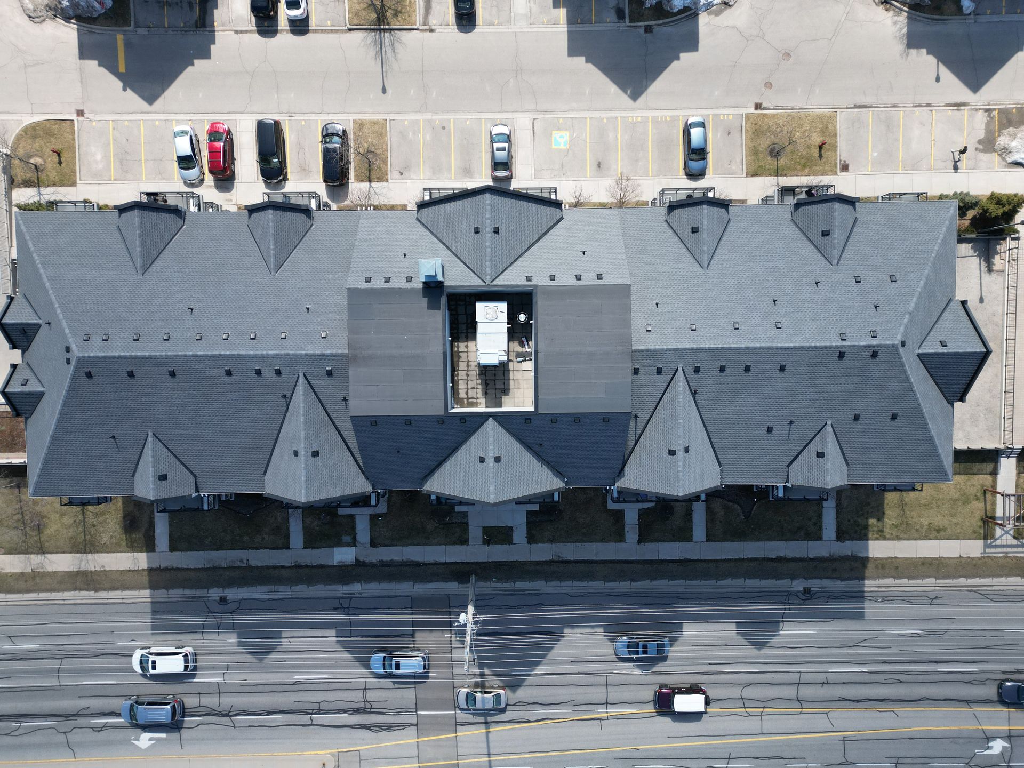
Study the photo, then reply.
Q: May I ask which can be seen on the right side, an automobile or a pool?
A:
automobile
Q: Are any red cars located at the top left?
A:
Yes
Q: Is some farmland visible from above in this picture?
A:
No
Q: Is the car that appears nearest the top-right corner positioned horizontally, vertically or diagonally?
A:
vertically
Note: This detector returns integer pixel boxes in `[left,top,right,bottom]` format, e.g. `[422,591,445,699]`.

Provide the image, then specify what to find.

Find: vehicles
[454,0,477,20]
[251,0,280,23]
[682,117,710,177]
[318,123,349,187]
[456,684,508,712]
[653,684,707,714]
[285,0,311,23]
[202,121,236,180]
[994,678,1024,706]
[172,124,206,186]
[255,118,287,184]
[488,124,514,182]
[373,648,429,678]
[614,632,669,661]
[134,647,195,678]
[123,694,184,726]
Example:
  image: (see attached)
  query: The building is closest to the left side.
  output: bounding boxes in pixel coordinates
[0,184,996,512]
